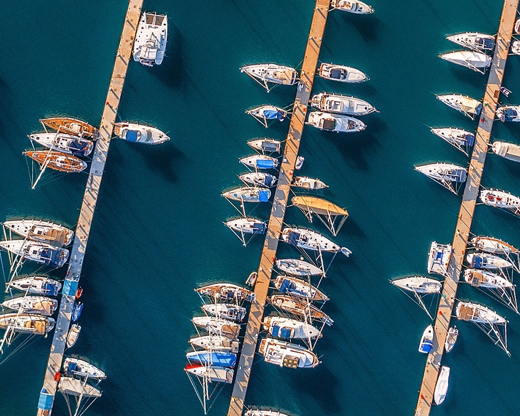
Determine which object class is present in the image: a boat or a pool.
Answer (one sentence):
Looking from above, you can make out a boat.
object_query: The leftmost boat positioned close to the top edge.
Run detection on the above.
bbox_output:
[133,12,171,64]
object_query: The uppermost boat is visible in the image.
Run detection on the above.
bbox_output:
[331,0,380,17]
